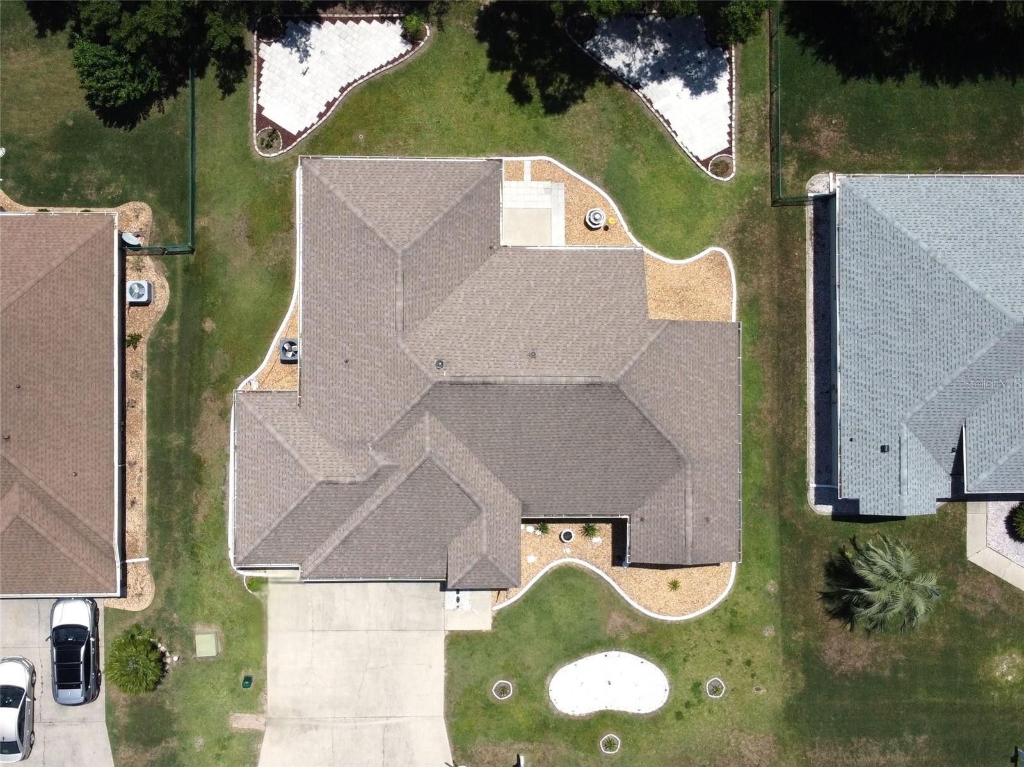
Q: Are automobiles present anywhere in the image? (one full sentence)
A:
Yes, an automobile can be made out from above.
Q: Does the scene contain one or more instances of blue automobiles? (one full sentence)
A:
No, the frame has no blue automobile in it.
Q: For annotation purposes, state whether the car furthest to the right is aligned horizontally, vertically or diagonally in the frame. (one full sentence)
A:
The car furthest to the right has been laid out vertically relative to the frame.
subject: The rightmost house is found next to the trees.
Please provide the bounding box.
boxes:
[811,173,1024,515]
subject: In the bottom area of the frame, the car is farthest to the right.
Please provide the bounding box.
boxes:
[45,598,101,706]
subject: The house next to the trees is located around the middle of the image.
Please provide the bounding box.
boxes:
[232,156,744,591]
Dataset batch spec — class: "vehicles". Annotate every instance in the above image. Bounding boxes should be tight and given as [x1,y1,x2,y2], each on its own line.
[0,656,37,762]
[45,598,101,706]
